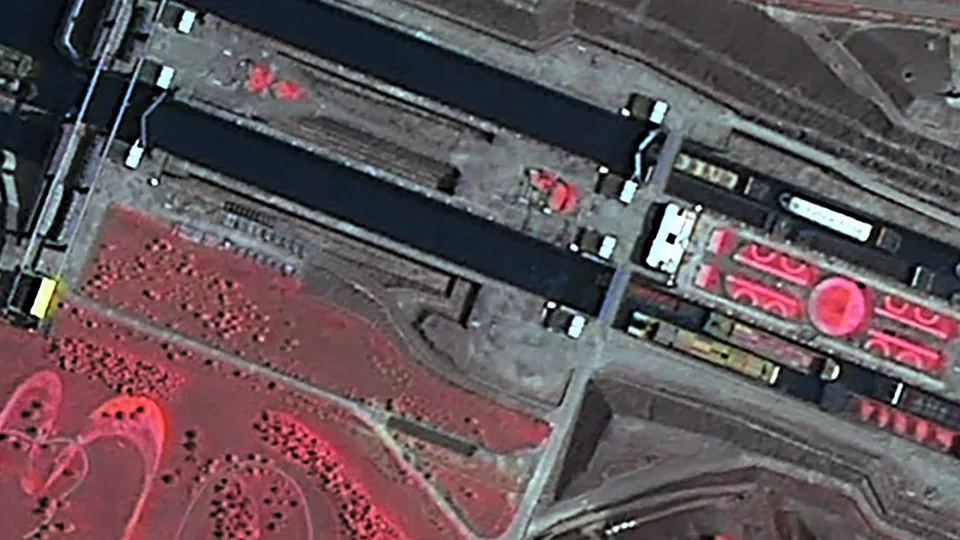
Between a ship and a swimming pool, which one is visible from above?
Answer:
ship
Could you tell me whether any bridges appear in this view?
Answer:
Yes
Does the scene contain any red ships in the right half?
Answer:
Yes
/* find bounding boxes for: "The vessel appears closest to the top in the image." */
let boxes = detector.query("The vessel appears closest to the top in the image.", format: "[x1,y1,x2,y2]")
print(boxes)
[0,42,39,87]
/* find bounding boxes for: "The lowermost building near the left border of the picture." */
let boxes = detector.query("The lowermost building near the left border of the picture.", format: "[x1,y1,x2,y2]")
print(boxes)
[28,278,55,319]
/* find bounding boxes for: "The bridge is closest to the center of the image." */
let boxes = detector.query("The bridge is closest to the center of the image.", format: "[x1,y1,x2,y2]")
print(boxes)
[597,261,637,328]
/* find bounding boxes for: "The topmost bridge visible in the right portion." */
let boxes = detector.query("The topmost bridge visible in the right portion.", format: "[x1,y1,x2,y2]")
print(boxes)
[641,127,683,198]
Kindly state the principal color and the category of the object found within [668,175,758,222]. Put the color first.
black ship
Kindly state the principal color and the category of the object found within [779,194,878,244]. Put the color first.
white ship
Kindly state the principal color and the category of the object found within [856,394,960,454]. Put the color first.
red ship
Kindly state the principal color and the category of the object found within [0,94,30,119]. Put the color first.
gray ship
